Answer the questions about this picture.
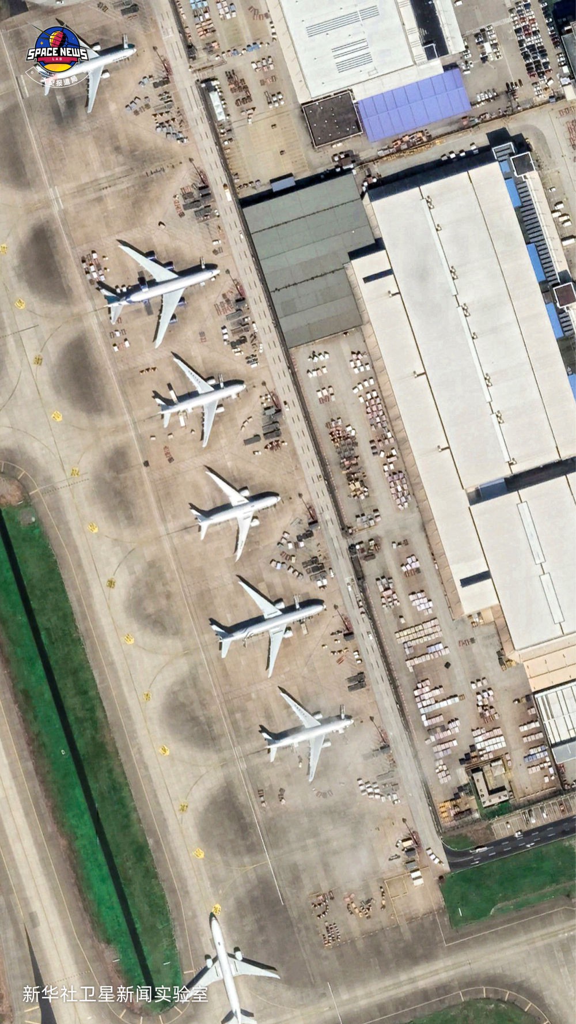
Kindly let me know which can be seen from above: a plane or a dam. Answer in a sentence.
It is a plane that can be seen here.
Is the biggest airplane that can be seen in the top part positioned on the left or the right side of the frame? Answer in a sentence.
The biggest airplane that can be seen in the top part is on the left side of the image.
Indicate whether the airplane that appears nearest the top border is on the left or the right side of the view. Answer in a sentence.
The airplane that appears nearest the top border is on the left side of the image.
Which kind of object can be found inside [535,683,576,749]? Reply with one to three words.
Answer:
building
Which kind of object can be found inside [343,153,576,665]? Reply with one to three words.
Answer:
warehouse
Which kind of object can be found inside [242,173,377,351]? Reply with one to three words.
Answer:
building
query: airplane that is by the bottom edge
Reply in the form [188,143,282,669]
[184,917,281,1024]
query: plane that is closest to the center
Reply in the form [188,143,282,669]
[195,471,280,561]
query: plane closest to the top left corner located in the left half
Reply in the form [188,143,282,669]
[44,26,136,113]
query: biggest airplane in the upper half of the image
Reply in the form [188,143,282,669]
[98,245,220,348]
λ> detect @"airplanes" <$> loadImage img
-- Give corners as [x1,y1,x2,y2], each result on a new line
[195,471,280,561]
[184,917,281,1024]
[44,26,136,113]
[261,694,354,782]
[98,245,220,348]
[156,359,246,447]
[215,581,325,677]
